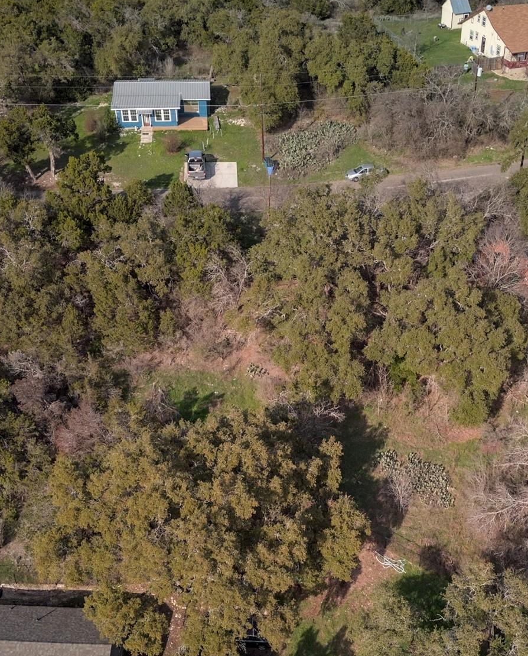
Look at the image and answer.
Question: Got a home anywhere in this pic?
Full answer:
Yes, the image includes a home.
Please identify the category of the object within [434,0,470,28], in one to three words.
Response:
shed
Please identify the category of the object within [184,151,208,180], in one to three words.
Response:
truck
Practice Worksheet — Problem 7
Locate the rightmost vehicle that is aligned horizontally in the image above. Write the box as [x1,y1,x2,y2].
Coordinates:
[347,163,386,181]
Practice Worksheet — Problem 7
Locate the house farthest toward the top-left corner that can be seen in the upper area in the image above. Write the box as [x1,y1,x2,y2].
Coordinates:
[111,79,216,141]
